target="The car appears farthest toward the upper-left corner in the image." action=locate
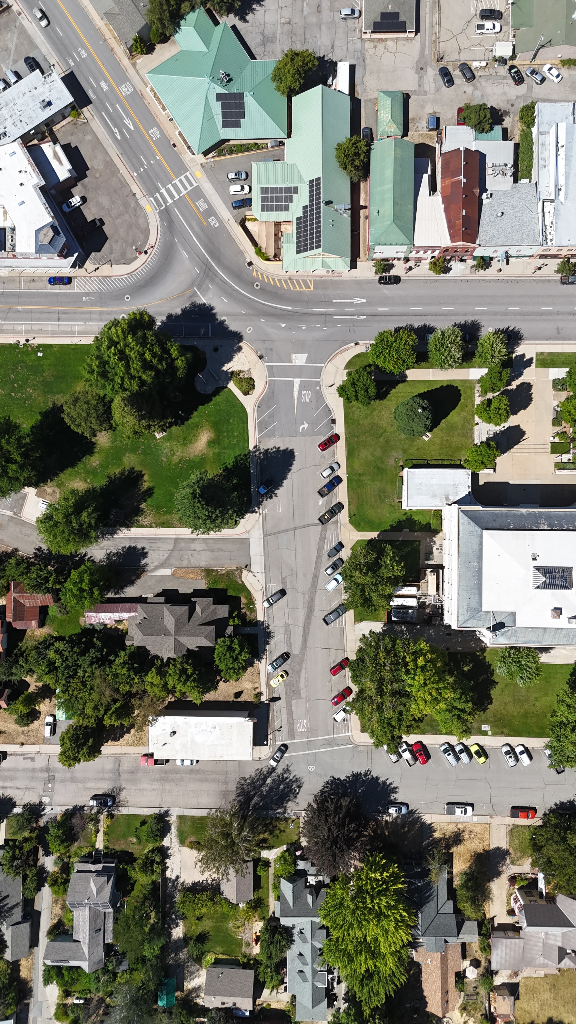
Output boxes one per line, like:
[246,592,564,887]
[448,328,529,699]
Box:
[32,6,49,29]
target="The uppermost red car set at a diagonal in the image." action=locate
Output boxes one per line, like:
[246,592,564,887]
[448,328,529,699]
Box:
[318,433,340,452]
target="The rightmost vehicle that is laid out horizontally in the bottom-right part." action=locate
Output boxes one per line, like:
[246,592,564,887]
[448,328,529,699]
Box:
[509,807,536,819]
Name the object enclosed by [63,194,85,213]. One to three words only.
car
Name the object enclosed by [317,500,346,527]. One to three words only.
truck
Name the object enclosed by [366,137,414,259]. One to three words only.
building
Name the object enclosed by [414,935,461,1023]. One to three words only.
house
